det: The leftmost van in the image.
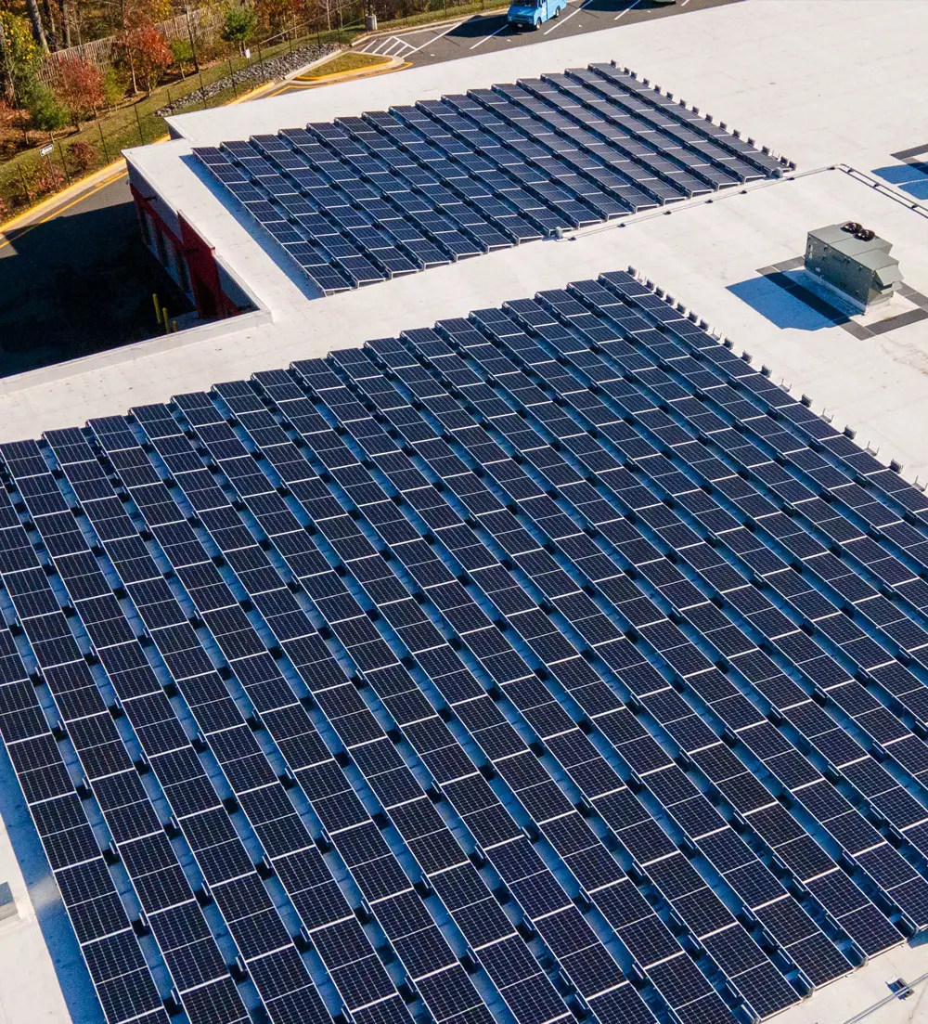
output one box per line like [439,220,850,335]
[506,0,569,30]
